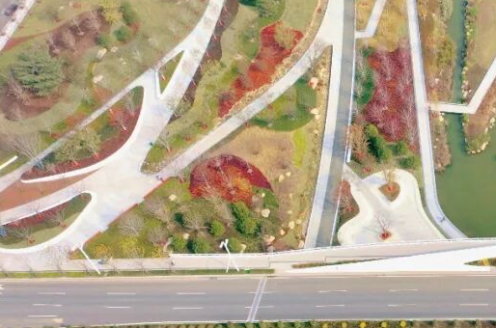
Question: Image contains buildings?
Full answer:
No, the scene contains no building.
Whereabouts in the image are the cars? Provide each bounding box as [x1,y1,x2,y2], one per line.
[4,3,17,15]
